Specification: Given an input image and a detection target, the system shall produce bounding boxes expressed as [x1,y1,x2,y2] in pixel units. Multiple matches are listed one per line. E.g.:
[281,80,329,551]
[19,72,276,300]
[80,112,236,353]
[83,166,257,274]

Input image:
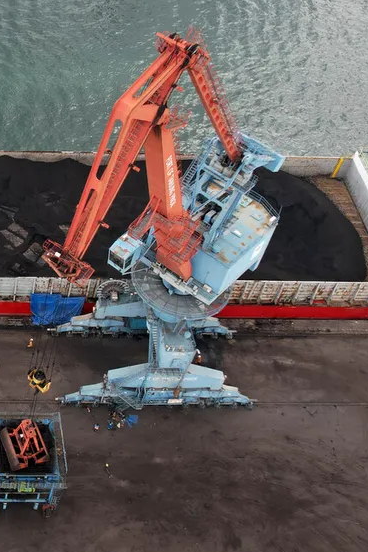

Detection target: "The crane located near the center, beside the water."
[26,28,295,421]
